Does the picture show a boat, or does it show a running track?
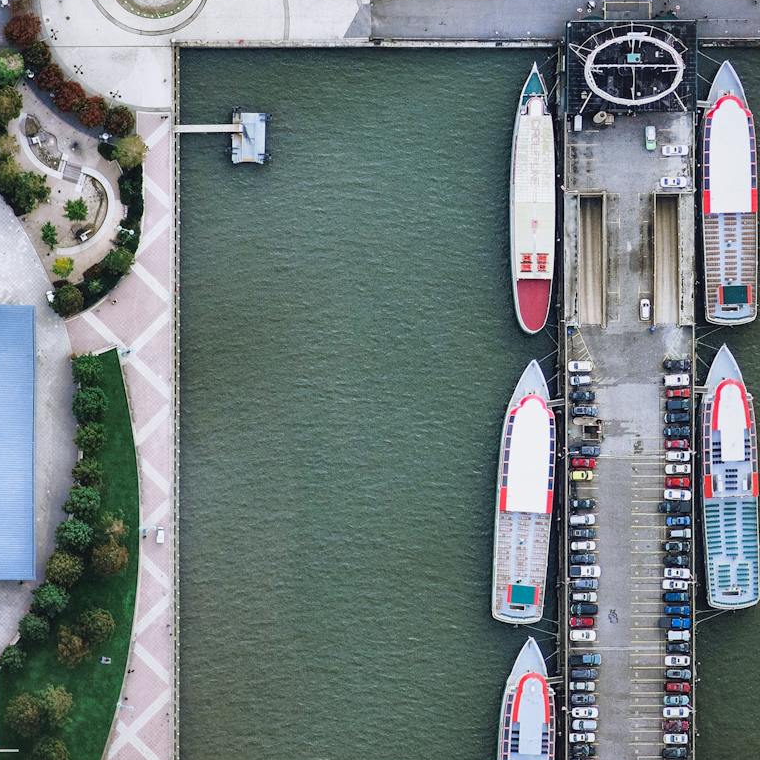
boat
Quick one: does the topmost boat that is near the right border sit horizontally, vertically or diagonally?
vertically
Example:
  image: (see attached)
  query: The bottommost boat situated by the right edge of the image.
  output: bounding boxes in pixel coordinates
[699,345,760,612]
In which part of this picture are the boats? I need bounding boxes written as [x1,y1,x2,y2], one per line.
[511,62,555,335]
[492,359,556,626]
[699,60,758,326]
[498,638,555,760]
[699,345,760,612]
